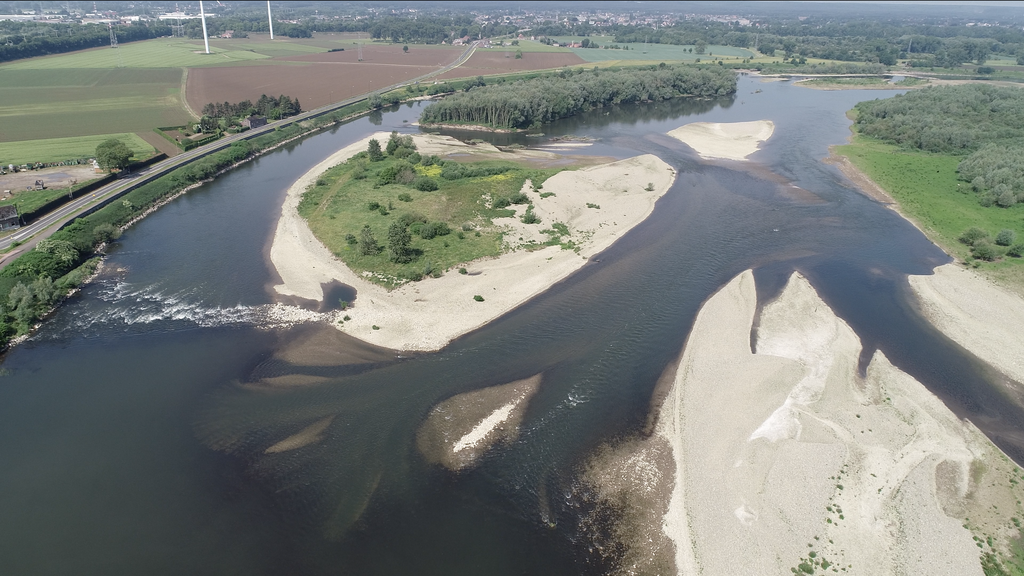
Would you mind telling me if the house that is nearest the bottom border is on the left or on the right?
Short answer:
left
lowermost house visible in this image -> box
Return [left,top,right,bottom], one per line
[0,196,31,235]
